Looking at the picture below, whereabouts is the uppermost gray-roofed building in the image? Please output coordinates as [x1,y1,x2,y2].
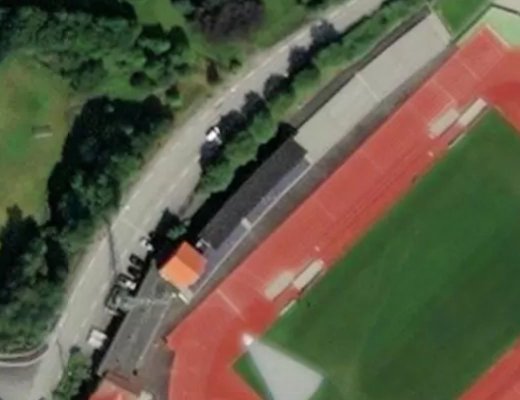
[96,263,172,382]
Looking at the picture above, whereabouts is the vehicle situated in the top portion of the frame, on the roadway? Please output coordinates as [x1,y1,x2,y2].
[206,126,220,141]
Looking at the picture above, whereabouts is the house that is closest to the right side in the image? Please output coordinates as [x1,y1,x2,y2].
[158,242,208,290]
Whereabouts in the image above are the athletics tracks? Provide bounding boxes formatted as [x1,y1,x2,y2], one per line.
[168,26,520,400]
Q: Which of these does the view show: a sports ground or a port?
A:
sports ground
